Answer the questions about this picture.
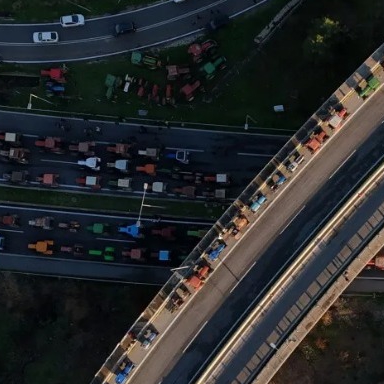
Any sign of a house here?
No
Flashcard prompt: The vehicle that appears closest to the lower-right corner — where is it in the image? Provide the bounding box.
[366,256,384,271]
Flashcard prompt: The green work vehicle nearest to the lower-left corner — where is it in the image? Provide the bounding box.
[87,247,117,261]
